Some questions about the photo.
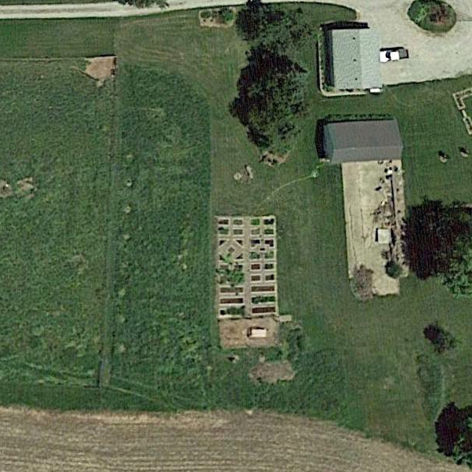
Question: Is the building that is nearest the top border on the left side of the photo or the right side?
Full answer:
The building that is nearest the top border is on the right side of the image.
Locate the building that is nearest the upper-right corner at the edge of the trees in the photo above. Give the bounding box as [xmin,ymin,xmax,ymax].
[325,29,381,90]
